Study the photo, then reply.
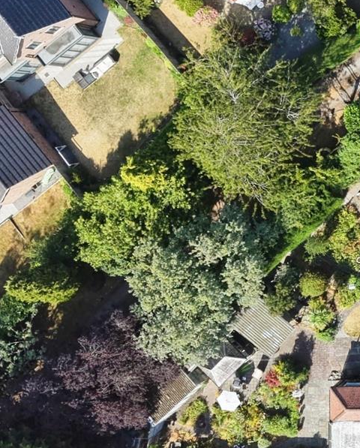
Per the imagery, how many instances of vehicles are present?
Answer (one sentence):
There are no vehicles in the image.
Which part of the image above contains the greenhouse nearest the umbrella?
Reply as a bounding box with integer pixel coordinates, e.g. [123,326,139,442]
[210,352,252,387]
